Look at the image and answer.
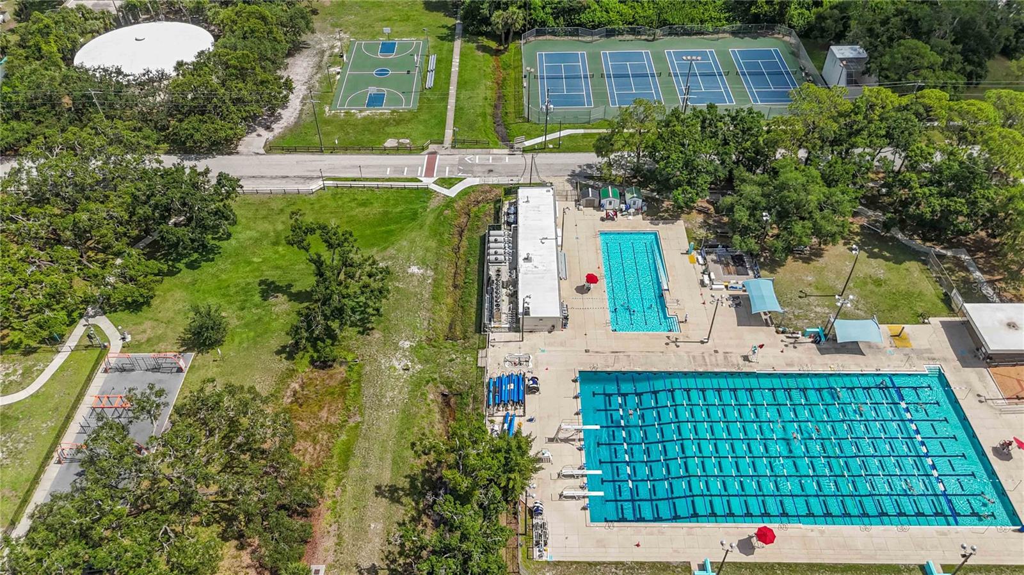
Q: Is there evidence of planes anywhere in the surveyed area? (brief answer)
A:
No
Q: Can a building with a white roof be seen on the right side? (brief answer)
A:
Yes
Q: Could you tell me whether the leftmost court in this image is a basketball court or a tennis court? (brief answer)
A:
basketball court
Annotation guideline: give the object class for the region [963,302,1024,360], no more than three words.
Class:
building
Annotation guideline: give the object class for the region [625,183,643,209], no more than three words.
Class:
shed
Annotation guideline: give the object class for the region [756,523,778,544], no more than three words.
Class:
umbrella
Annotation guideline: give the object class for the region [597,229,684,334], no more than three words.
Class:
swimming pool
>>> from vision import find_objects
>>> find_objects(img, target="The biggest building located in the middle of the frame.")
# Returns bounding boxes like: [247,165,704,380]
[518,186,562,330]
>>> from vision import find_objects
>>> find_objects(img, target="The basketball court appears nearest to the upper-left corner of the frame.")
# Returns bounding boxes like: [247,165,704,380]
[331,39,427,110]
